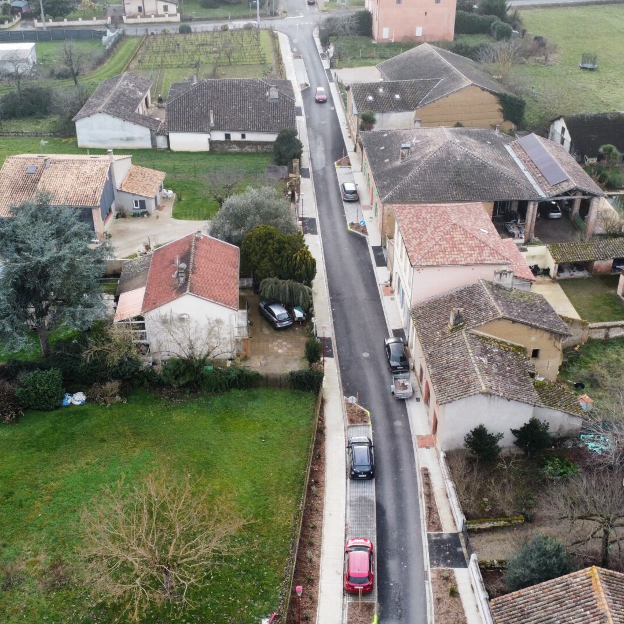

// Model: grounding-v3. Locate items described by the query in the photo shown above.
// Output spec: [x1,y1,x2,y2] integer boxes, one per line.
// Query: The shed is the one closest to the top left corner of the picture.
[9,0,33,24]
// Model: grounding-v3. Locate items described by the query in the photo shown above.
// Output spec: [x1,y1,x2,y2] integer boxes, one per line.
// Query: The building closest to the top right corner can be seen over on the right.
[546,110,624,165]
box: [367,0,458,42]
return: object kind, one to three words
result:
house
